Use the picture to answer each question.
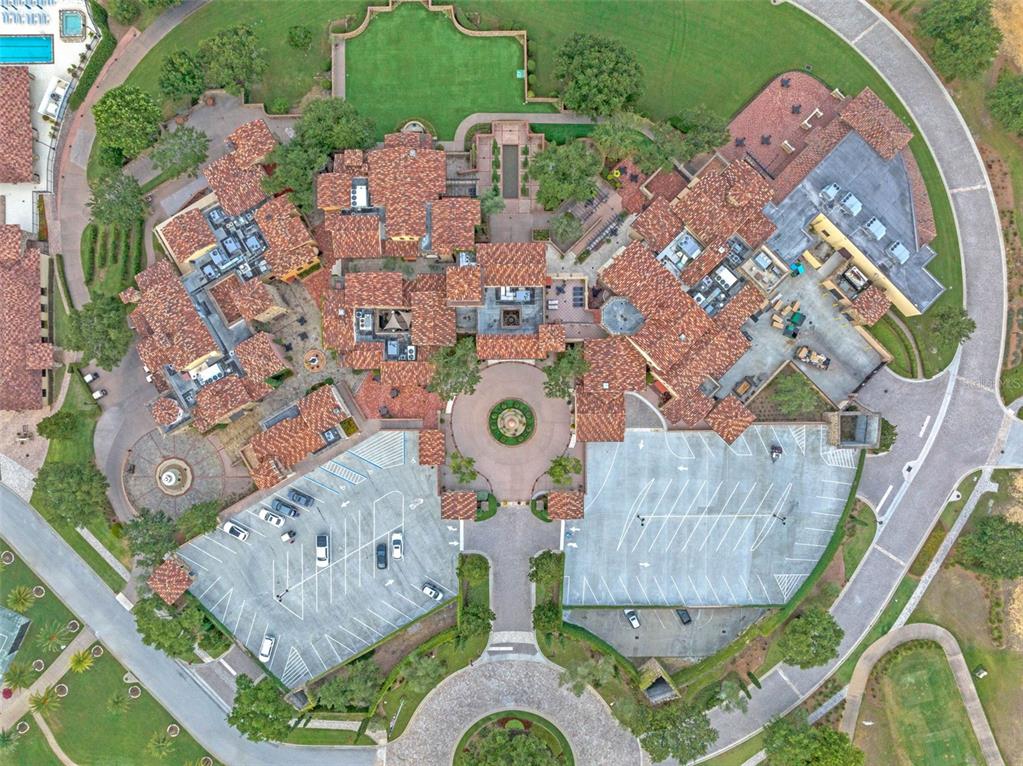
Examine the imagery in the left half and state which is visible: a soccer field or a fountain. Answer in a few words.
fountain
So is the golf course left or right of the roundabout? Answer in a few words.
to its right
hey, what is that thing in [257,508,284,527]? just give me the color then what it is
white car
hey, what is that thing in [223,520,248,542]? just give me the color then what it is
white car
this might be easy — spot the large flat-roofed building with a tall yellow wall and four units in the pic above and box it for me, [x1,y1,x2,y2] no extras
[754,87,947,327]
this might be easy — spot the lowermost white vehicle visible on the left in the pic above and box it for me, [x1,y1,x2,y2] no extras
[258,635,275,663]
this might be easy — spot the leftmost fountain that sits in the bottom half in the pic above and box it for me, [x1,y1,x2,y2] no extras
[154,458,193,496]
